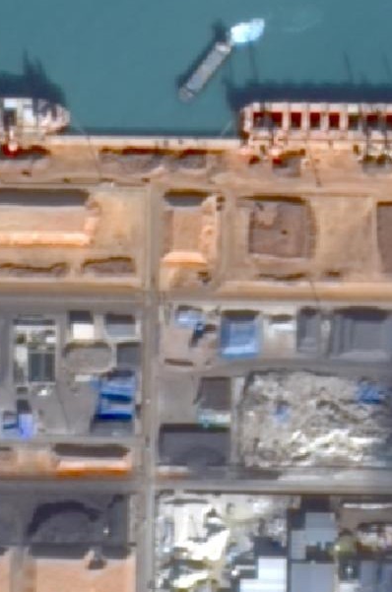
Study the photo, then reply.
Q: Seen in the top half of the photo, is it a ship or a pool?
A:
ship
